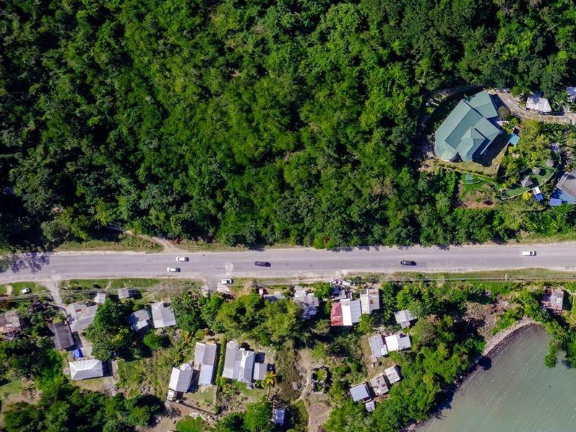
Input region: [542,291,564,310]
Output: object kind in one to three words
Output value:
house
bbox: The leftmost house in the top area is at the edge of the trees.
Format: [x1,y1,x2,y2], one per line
[433,90,499,160]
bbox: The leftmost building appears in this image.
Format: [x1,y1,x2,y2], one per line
[0,311,24,341]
